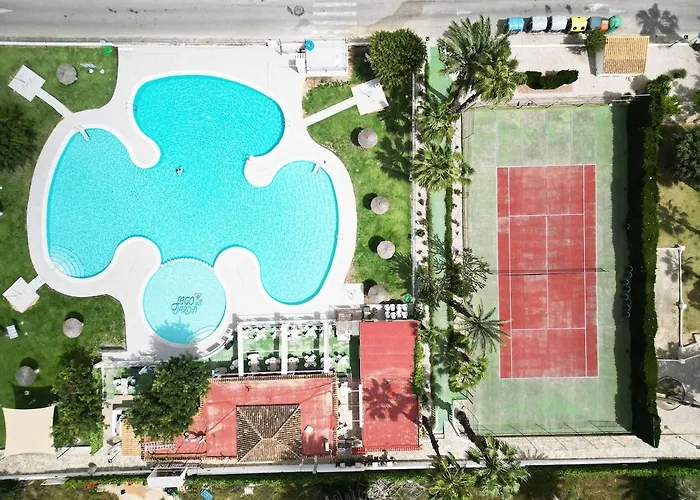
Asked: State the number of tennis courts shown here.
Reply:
1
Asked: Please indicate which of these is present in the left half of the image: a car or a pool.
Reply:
pool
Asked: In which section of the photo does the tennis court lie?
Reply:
right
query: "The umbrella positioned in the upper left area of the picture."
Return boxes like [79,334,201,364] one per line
[59,64,83,88]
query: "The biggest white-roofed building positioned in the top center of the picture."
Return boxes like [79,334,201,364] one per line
[306,36,349,76]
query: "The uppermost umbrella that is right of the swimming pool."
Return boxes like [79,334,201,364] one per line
[356,129,377,150]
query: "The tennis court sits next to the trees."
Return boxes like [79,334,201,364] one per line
[465,101,638,435]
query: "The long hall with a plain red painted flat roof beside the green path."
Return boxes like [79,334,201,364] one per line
[360,319,421,453]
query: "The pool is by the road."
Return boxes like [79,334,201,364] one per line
[42,70,342,349]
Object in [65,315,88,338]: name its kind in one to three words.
umbrella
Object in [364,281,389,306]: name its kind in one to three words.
umbrella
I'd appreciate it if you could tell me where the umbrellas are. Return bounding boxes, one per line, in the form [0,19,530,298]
[65,315,88,338]
[18,363,43,386]
[375,239,396,261]
[368,194,390,216]
[356,129,377,150]
[364,281,389,306]
[59,64,83,88]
